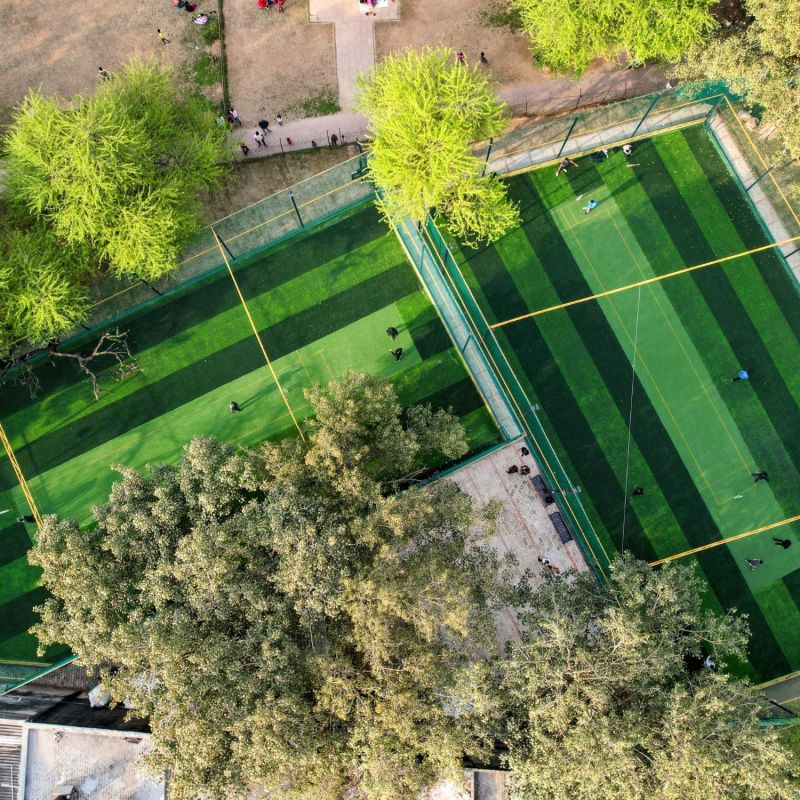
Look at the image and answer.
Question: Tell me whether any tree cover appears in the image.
Yes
